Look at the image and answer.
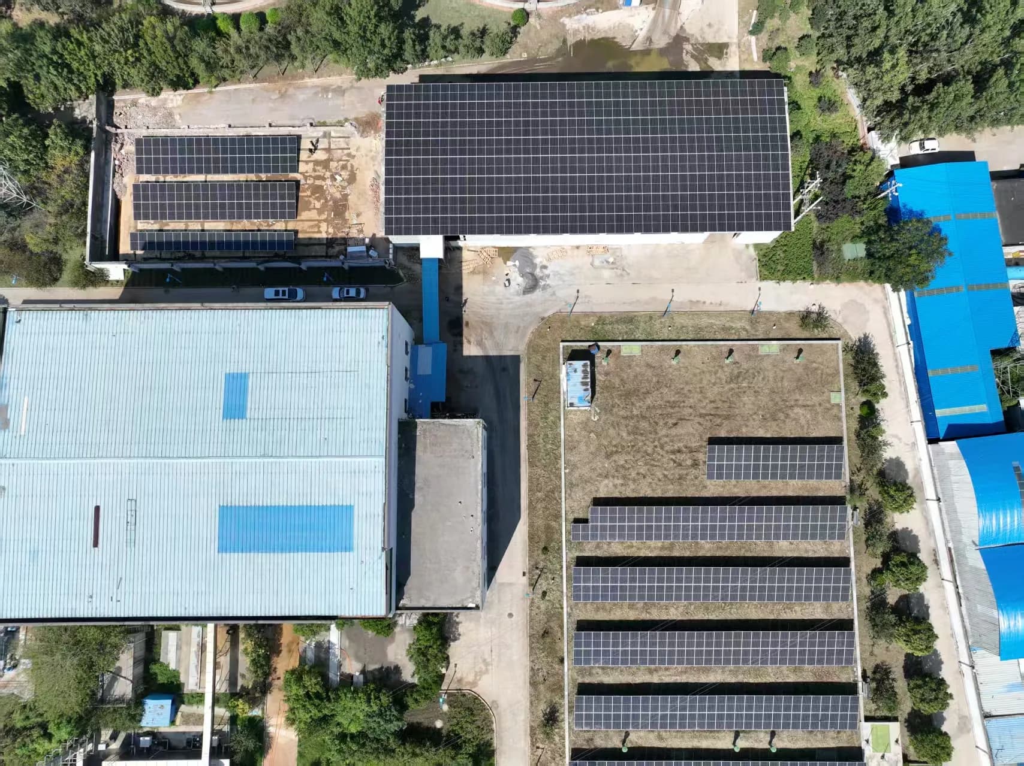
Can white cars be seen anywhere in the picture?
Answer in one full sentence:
Yes, there's a white car here.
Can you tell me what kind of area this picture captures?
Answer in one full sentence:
What you see here is an industrial area.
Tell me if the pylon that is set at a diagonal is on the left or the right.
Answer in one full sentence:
The pylon that is set at a diagonal is on the left side of the image.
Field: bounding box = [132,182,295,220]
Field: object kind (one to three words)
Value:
solar array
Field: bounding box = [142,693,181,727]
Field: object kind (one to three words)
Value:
shed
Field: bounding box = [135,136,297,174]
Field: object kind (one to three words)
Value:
solar array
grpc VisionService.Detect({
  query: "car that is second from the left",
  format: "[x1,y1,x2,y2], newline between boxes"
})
[331,285,365,301]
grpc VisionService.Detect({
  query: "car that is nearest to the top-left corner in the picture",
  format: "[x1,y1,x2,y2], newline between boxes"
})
[263,285,304,301]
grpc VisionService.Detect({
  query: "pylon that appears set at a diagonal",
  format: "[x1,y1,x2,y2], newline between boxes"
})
[0,177,26,201]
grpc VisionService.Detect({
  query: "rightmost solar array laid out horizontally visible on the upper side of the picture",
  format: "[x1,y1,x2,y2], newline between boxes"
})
[384,79,791,235]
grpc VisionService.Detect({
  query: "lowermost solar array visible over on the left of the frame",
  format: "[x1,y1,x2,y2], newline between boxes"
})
[130,232,294,251]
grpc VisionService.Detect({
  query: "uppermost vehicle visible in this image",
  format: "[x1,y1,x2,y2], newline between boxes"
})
[909,136,944,154]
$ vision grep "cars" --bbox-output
[909,136,944,154]
[263,285,304,301]
[331,285,365,301]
